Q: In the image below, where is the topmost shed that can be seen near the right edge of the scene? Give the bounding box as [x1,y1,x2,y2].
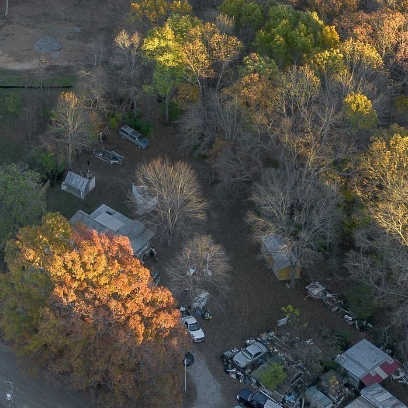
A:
[331,339,399,395]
